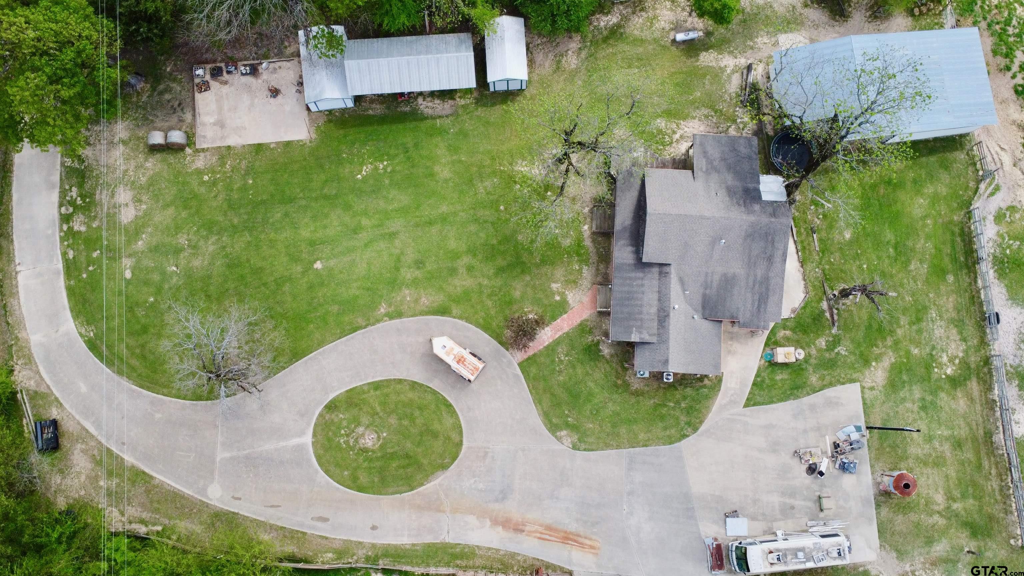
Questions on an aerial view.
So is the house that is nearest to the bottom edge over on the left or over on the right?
right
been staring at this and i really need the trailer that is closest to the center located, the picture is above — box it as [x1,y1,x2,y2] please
[428,334,488,381]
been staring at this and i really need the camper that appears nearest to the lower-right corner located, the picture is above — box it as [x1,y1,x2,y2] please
[727,527,848,575]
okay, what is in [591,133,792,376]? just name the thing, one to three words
house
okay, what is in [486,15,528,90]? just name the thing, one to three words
shed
